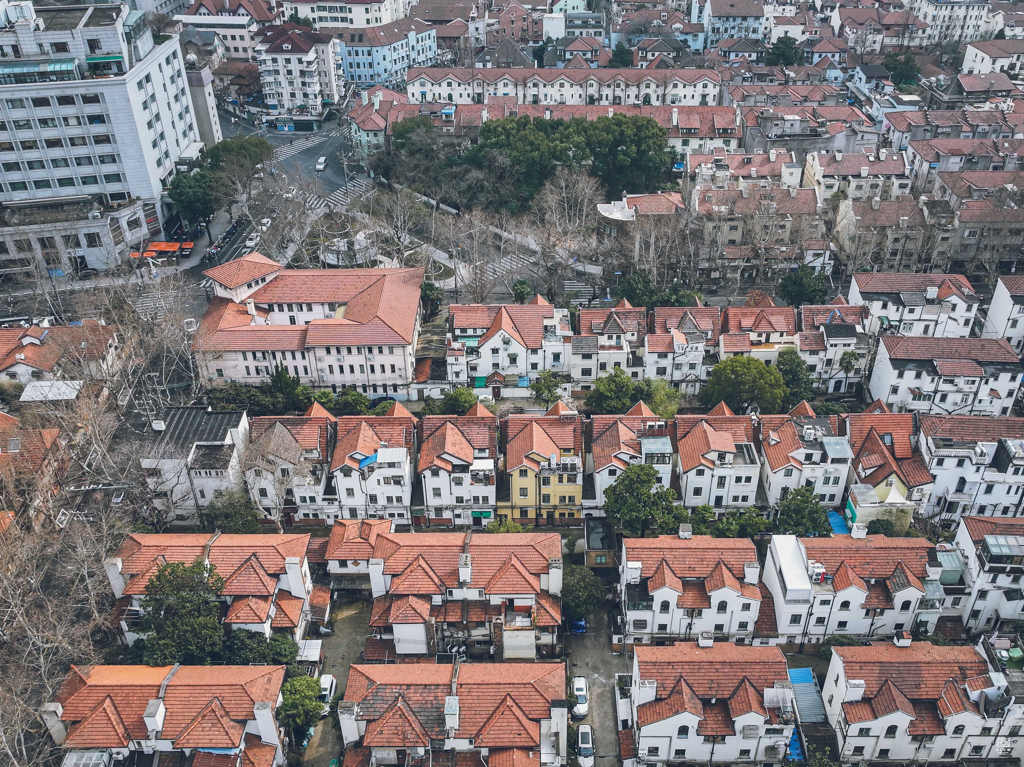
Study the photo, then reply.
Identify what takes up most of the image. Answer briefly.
buildings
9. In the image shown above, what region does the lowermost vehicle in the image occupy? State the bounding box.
[575,724,597,767]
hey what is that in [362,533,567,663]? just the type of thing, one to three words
house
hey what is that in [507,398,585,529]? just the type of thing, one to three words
house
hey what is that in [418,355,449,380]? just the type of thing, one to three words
shed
